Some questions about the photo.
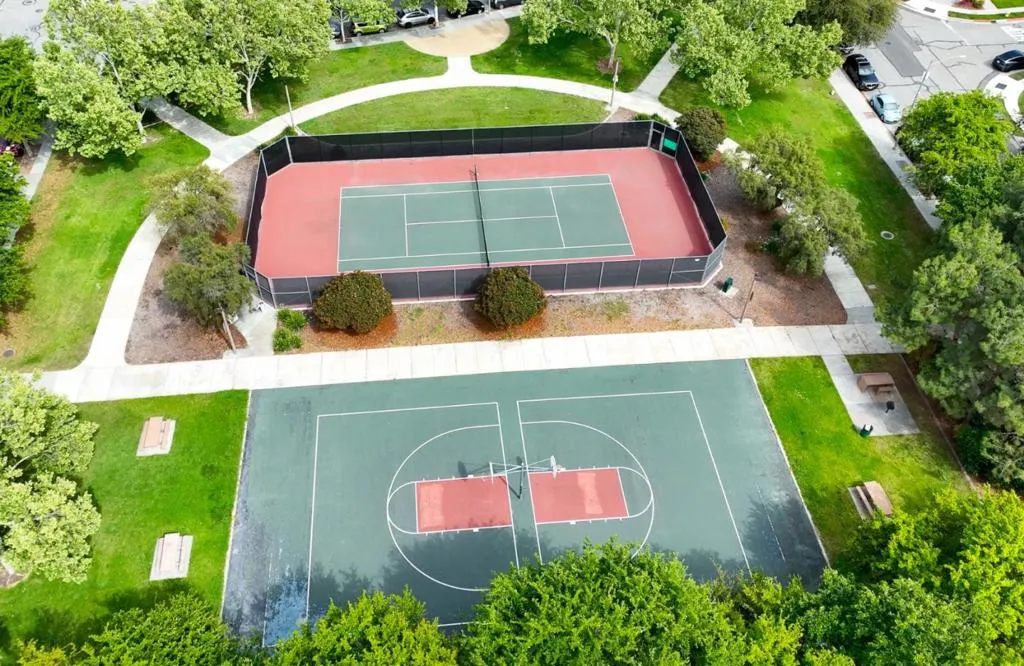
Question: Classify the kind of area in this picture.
sports ground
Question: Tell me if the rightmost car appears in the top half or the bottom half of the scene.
top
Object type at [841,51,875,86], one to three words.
car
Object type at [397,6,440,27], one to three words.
car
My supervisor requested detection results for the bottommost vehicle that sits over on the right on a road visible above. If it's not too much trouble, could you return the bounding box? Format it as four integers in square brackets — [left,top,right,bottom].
[868,94,900,121]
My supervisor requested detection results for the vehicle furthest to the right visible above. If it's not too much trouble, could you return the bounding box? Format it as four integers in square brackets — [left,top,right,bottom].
[990,47,1024,68]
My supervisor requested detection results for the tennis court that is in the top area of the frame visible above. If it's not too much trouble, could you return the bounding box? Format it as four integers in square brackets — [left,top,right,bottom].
[246,147,722,314]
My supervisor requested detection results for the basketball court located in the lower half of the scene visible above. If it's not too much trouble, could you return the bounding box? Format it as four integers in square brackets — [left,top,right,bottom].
[217,359,859,666]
